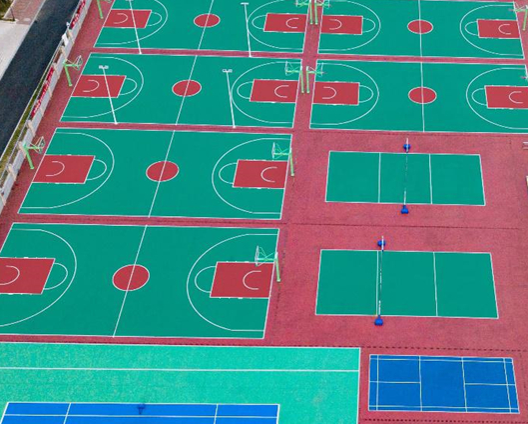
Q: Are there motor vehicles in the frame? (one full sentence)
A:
No, this view has no motor vehicle in it.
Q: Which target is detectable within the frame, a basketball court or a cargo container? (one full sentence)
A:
I can see a basketball court in this picture.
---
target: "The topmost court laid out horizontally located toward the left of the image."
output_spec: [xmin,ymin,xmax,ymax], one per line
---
[94,0,310,53]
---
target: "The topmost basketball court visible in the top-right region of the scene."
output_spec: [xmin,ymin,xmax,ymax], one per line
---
[318,0,525,59]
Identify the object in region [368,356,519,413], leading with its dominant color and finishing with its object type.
blue sports court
